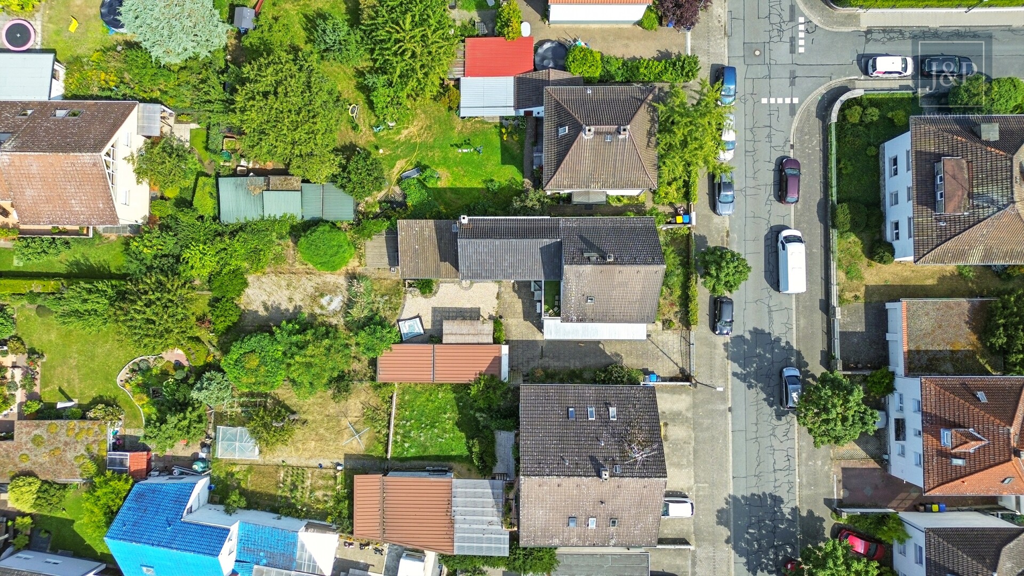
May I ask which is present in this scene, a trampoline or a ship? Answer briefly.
trampoline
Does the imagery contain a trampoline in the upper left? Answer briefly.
Yes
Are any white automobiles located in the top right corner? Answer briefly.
Yes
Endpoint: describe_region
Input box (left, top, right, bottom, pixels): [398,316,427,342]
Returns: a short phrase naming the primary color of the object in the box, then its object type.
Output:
white gazebo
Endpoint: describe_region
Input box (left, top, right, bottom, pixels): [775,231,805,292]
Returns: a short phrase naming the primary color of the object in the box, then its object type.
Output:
white van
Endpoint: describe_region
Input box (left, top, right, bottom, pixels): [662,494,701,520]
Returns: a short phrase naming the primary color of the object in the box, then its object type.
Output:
white car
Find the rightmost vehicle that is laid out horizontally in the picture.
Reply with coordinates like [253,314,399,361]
[918,54,970,79]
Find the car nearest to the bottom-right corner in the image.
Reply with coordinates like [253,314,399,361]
[833,525,884,560]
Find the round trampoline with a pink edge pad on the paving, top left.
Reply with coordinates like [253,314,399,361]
[2,19,39,46]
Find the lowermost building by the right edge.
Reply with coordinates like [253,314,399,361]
[895,513,1024,576]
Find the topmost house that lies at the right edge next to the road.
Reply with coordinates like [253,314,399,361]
[883,113,1024,266]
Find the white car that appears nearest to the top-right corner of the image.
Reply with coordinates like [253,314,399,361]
[865,54,910,79]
